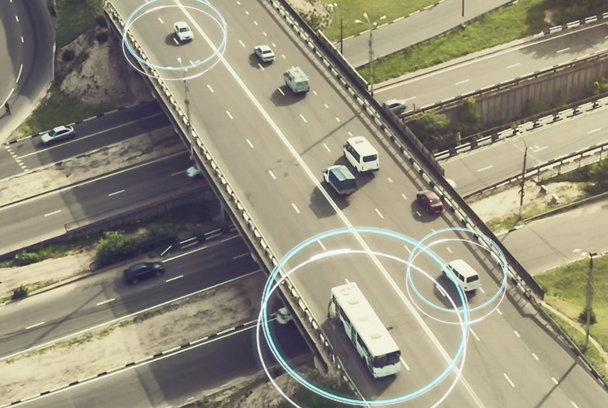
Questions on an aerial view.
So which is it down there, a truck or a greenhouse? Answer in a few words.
truck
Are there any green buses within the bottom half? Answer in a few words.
No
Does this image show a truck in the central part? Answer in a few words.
Yes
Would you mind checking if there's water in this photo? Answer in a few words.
No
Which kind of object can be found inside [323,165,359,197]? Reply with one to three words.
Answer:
truck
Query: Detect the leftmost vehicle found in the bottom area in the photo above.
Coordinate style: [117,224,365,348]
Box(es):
[122,261,166,285]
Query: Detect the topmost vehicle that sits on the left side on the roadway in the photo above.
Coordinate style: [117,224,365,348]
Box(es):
[172,24,193,42]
